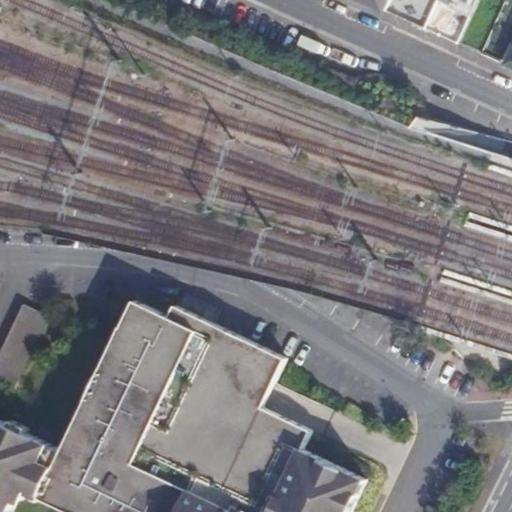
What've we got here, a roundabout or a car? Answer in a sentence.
This aerial view contains a car.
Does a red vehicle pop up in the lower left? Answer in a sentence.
No, I can find no red vehicle in the lower left.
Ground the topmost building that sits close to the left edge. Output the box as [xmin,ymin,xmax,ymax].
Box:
[0,305,48,385]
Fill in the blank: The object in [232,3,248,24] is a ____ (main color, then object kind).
red car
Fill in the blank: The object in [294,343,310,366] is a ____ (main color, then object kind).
white car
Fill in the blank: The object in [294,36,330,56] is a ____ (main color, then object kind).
white truck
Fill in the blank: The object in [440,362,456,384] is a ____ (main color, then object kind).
white car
